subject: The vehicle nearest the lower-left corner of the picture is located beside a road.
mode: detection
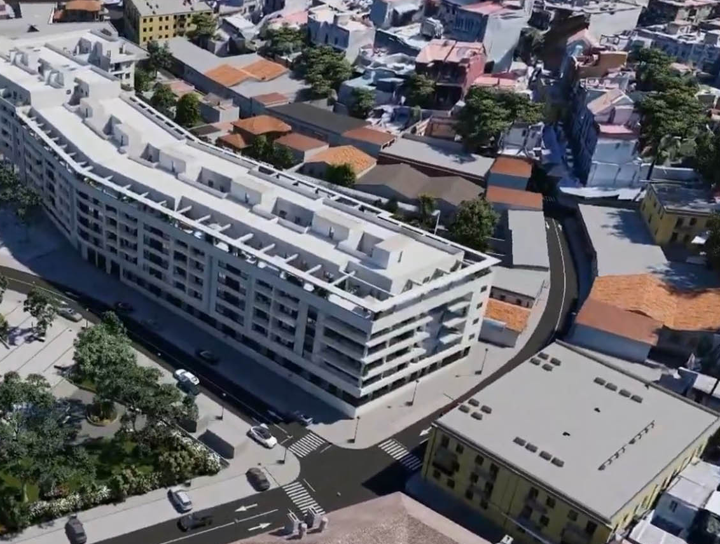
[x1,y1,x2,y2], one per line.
[63,514,87,544]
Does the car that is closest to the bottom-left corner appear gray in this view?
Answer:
Yes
